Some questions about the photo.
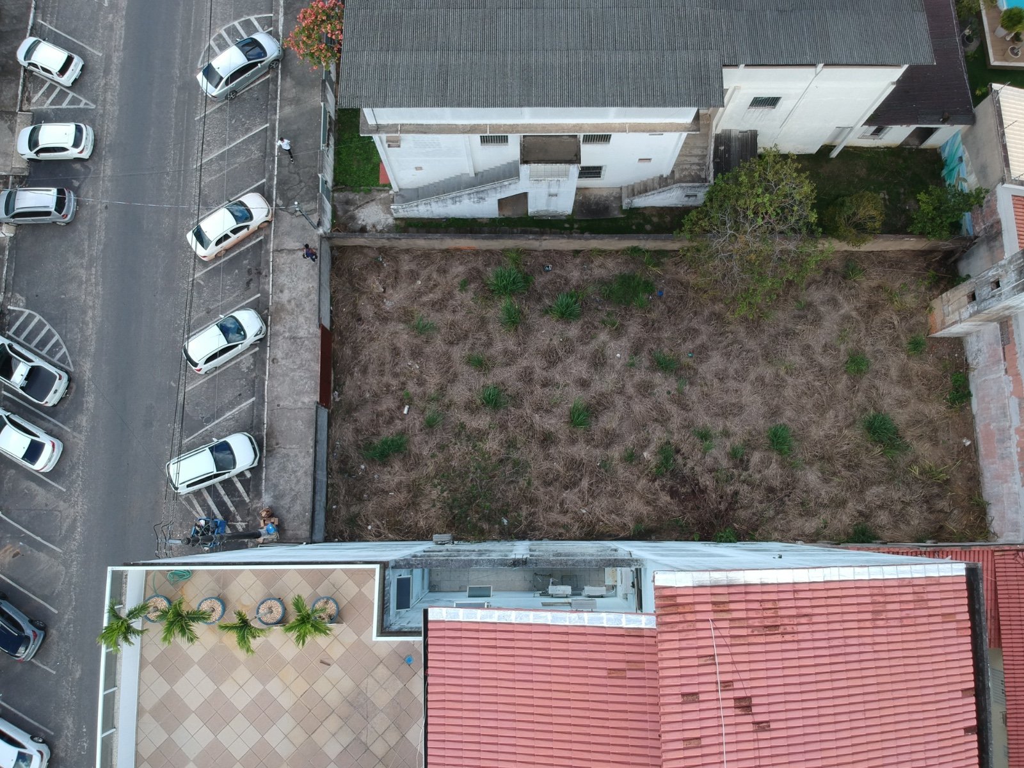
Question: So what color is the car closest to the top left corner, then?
white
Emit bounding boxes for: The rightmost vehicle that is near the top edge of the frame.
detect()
[195,33,284,101]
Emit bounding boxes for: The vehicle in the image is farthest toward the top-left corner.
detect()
[11,33,89,90]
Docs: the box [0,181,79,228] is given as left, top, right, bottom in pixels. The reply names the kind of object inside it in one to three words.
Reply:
car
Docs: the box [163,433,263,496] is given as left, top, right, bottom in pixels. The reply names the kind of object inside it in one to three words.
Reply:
car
